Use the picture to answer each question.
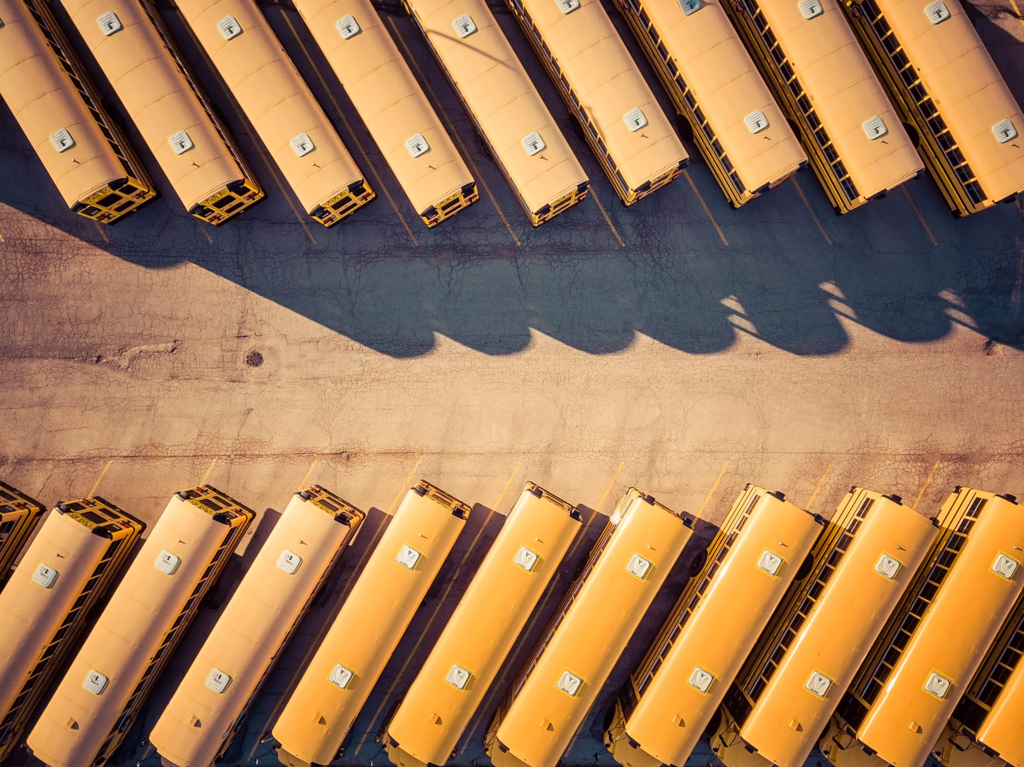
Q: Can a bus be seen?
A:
Yes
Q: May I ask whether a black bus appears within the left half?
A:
No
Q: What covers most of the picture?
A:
paved ground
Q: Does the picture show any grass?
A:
No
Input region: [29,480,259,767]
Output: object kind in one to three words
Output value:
bus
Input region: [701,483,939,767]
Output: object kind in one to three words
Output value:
bus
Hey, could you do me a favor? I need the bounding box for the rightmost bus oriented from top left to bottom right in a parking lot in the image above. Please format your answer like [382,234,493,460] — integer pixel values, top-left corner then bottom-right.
[833,0,1024,221]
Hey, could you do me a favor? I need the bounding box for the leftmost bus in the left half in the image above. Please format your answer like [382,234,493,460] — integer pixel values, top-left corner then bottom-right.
[0,476,51,590]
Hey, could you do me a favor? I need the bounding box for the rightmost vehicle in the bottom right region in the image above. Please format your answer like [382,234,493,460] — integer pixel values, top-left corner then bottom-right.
[925,580,1024,767]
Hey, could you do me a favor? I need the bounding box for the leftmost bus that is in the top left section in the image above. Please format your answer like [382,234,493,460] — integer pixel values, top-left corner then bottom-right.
[0,0,164,230]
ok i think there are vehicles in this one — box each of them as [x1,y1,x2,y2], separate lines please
[596,479,824,767]
[504,0,692,211]
[0,476,51,590]
[178,0,379,233]
[29,480,259,767]
[291,0,482,234]
[61,0,270,231]
[0,0,164,230]
[144,479,368,767]
[613,0,810,213]
[701,483,939,767]
[0,491,151,767]
[260,475,474,767]
[370,476,586,767]
[925,580,1024,767]
[474,483,696,767]
[396,0,593,233]
[811,483,1024,767]
[719,0,926,219]
[833,0,1024,221]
